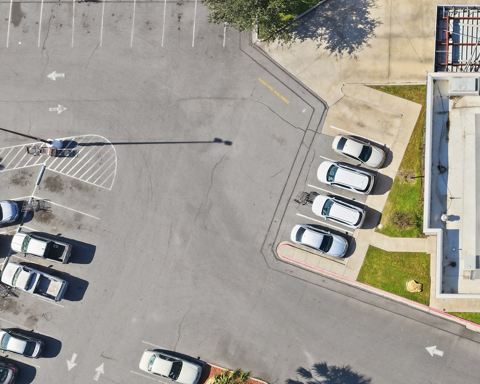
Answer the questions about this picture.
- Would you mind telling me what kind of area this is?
parking lot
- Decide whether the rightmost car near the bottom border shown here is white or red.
white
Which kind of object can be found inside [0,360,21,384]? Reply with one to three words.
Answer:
car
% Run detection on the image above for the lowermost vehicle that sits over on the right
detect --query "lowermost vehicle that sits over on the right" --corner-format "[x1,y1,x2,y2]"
[287,225,350,258]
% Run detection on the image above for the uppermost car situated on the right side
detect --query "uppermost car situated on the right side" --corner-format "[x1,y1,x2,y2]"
[330,133,389,169]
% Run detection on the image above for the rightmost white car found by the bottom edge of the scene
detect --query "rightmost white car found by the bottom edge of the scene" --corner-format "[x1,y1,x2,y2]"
[135,349,204,384]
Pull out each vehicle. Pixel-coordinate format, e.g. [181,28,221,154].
[0,360,21,384]
[5,231,74,266]
[315,159,376,194]
[0,202,21,227]
[287,225,350,258]
[135,349,204,384]
[310,194,368,230]
[0,265,69,303]
[0,325,46,360]
[330,133,389,169]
